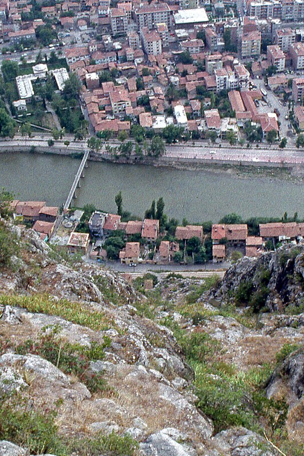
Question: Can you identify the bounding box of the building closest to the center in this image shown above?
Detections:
[142,219,158,244]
